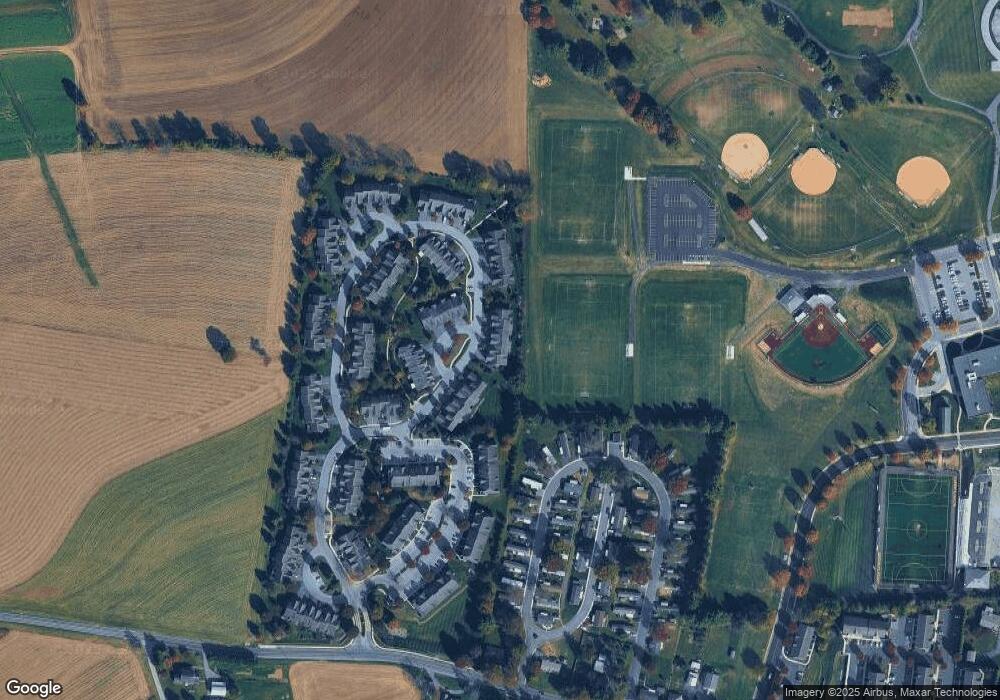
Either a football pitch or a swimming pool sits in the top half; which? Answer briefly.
football pitch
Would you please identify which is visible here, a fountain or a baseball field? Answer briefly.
baseball field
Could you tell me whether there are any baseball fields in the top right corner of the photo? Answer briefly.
Yes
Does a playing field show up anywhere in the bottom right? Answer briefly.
Yes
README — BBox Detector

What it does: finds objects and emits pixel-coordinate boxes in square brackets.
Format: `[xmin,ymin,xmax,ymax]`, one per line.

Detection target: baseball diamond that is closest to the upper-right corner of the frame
[841,130,984,212]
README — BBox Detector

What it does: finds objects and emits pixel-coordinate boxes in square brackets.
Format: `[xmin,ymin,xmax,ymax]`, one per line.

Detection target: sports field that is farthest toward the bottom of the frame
[874,469,961,589]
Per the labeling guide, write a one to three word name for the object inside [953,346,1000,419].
building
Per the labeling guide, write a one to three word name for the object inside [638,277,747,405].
soccer field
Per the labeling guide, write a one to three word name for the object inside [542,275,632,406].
soccer field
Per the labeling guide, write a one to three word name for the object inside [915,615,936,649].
building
